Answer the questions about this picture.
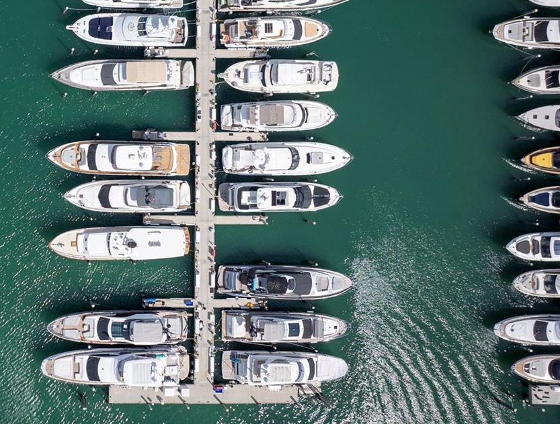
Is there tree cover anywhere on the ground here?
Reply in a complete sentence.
No, the picture contains no tree cover.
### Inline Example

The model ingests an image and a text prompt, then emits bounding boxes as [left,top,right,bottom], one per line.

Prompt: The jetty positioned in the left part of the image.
[108,0,320,404]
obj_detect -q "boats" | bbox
[222,309,347,342]
[46,141,189,176]
[51,59,194,91]
[220,16,330,48]
[219,182,343,213]
[519,146,560,174]
[221,102,336,132]
[517,104,560,130]
[511,67,560,97]
[216,264,353,298]
[515,270,560,301]
[216,60,337,93]
[217,0,346,14]
[527,0,560,7]
[222,347,348,384]
[41,344,189,386]
[63,179,190,213]
[494,320,560,356]
[222,142,353,176]
[504,232,560,261]
[492,16,560,49]
[48,309,192,343]
[66,12,188,47]
[511,354,560,384]
[49,226,190,260]
[519,186,560,213]
[85,0,183,8]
